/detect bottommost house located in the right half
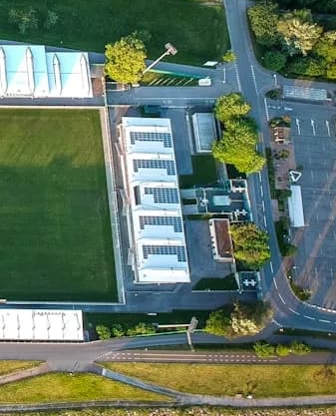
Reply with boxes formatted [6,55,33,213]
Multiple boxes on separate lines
[203,220,232,262]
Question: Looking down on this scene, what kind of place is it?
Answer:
sports ground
